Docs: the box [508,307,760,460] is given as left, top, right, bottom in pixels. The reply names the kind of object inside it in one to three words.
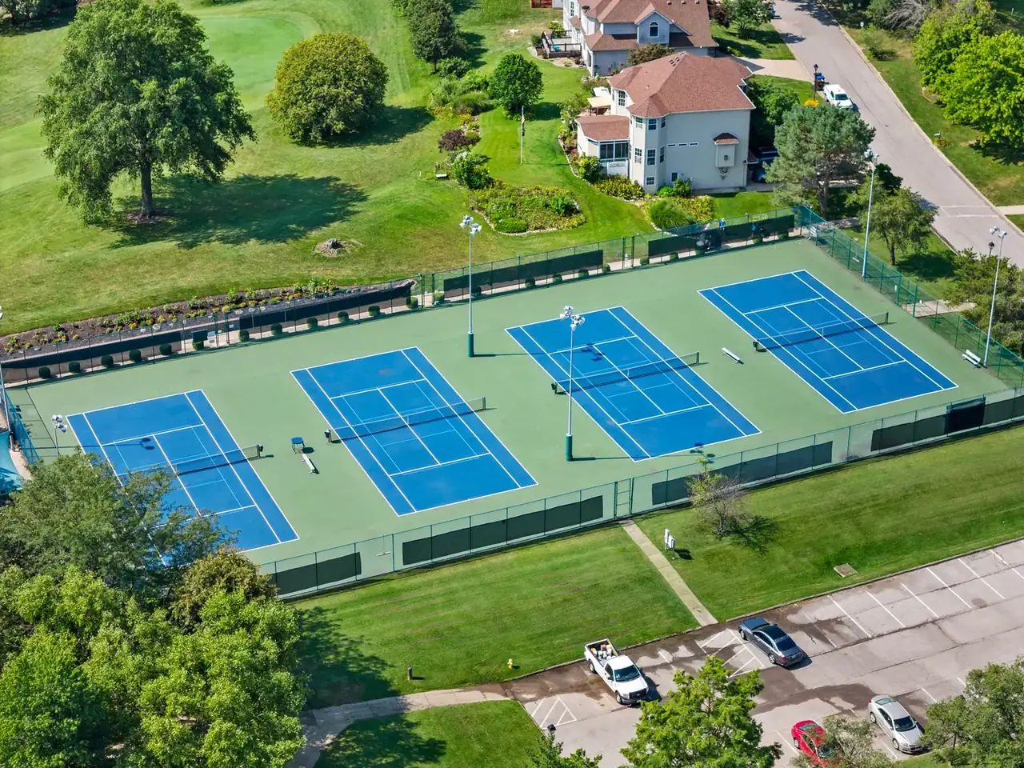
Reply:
tennis court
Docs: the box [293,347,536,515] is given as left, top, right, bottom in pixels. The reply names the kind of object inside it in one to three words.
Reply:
tennis court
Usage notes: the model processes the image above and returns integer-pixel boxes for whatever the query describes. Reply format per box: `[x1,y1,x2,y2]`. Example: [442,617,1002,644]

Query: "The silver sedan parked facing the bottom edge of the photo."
[868,694,930,749]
